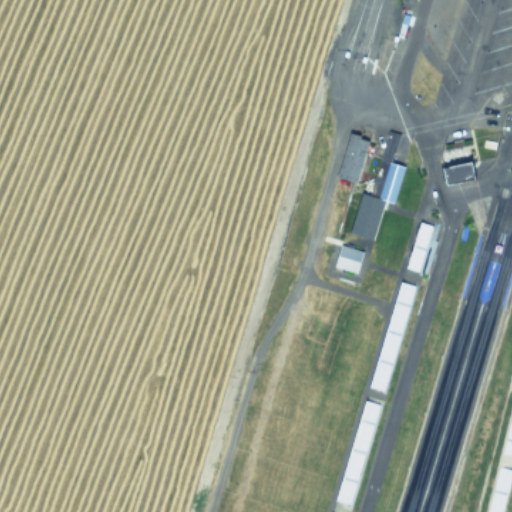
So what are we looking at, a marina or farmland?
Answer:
farmland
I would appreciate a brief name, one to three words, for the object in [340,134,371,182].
shed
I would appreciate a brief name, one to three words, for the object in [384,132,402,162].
building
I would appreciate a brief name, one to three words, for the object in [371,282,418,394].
hangar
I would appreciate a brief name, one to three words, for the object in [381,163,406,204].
building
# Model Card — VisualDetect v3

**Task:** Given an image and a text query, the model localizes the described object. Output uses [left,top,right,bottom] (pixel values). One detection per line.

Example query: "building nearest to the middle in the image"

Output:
[336,246,365,274]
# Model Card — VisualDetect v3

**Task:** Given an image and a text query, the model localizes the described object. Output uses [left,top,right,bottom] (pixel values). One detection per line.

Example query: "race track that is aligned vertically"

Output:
[402,186,512,512]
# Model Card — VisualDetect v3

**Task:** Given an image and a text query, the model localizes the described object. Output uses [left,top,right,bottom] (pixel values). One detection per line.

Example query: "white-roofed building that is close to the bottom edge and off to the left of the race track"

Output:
[338,401,382,507]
